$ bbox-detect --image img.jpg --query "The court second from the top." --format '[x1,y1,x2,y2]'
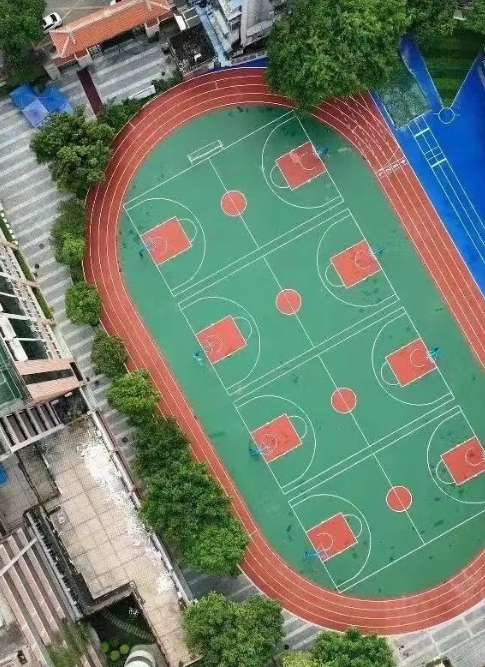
[176,206,402,397]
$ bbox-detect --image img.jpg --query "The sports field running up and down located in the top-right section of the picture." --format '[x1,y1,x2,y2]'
[365,2,485,298]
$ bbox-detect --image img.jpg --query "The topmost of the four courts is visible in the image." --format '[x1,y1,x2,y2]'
[121,108,347,298]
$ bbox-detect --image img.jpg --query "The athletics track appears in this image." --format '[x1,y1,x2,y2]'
[79,48,485,636]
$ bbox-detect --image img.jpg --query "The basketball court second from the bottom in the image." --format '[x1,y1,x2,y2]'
[231,305,457,496]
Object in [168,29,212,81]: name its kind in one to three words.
shed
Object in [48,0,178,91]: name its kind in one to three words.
building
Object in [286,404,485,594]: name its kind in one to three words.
basketball court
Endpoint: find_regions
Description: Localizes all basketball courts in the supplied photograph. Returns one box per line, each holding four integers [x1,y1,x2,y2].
[176,206,402,397]
[286,404,485,594]
[231,305,457,496]
[121,108,347,298]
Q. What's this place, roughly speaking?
sports ground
